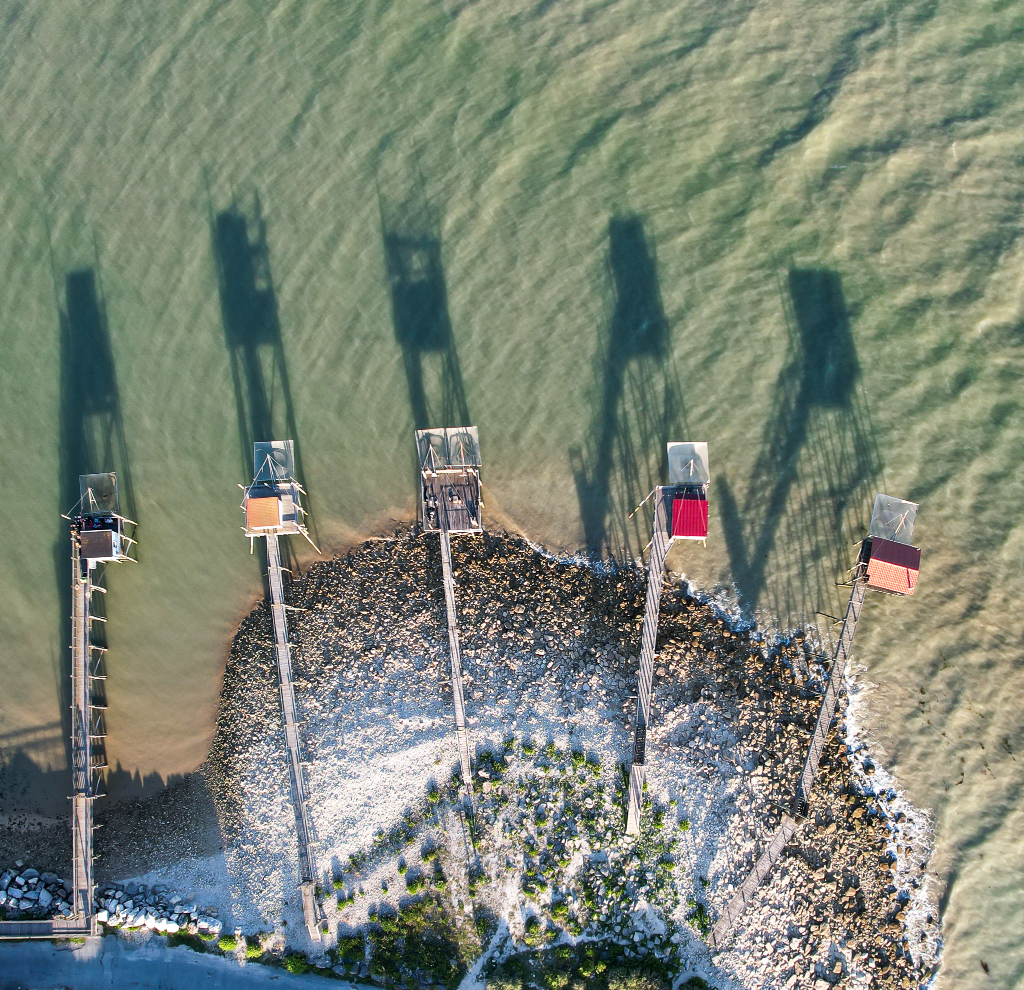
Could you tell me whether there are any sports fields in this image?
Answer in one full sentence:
No, I can't see a single sports field in this photo.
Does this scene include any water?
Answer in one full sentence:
Yes, water shows up in the scene.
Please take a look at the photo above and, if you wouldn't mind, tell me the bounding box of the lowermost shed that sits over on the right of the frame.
[862,535,921,595]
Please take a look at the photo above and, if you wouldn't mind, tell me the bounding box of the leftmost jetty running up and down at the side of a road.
[60,513,140,938]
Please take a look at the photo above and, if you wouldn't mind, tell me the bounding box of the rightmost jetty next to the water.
[706,534,929,948]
